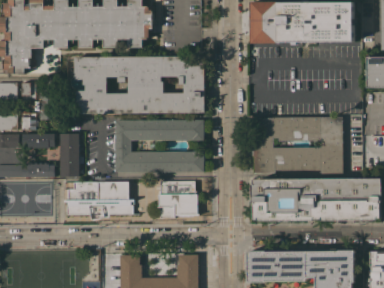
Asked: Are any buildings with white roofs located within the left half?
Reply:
Yes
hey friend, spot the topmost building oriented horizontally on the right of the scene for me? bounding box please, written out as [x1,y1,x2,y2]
[250,3,355,44]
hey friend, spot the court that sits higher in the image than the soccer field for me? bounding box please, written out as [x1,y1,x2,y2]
[0,182,54,216]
